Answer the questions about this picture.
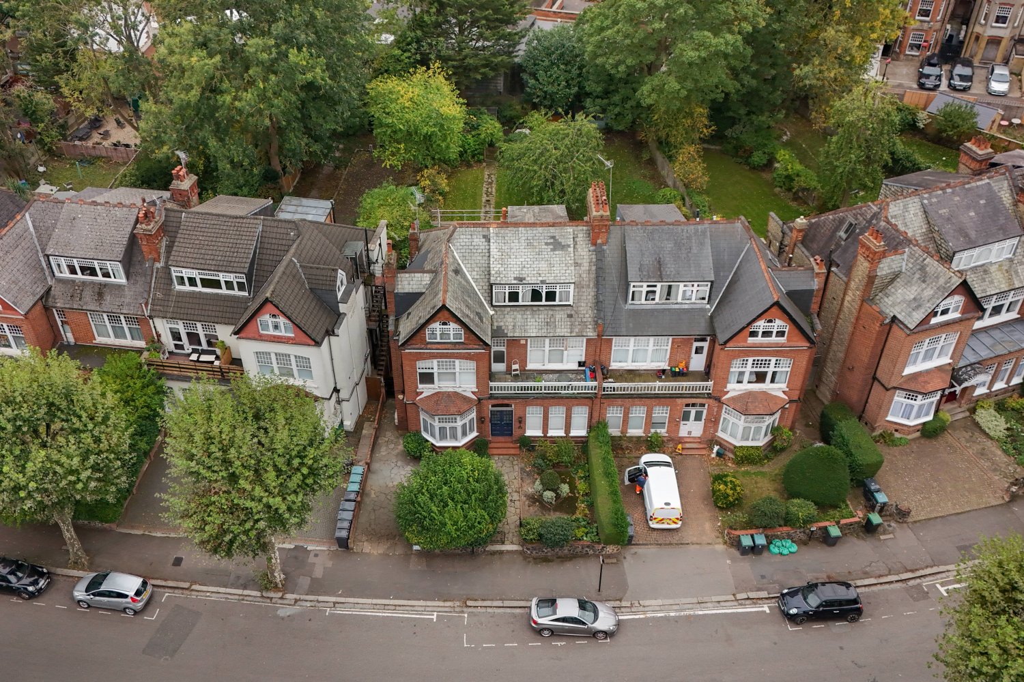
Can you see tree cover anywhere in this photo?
Yes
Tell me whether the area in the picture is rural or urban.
urban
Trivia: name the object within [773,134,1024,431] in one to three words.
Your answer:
house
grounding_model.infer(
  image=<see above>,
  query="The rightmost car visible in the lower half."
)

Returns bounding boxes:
[783,581,863,626]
